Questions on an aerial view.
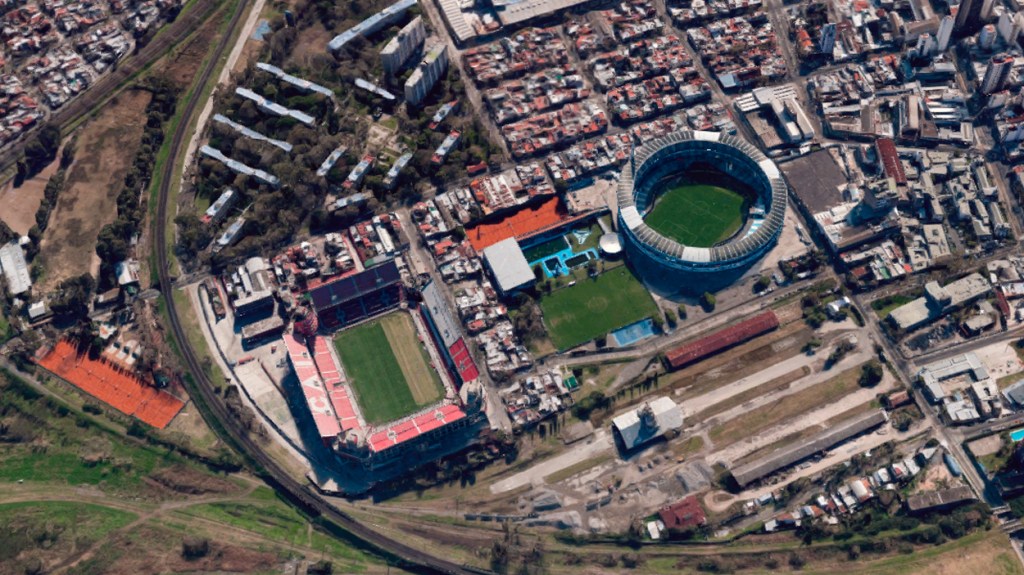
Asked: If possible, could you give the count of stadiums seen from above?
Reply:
2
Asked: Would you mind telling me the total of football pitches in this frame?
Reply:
three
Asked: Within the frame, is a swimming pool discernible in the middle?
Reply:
Yes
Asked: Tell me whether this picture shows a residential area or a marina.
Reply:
residential area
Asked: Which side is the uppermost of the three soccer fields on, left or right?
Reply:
right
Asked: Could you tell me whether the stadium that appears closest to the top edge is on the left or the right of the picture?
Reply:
right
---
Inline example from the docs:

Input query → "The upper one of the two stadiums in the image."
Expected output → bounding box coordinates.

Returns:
[617,131,787,277]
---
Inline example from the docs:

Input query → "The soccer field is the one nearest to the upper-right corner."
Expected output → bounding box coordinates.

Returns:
[648,167,750,246]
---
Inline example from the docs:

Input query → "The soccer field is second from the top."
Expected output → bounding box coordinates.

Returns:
[542,262,660,351]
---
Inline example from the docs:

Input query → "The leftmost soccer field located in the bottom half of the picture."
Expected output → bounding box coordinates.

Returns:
[333,310,444,425]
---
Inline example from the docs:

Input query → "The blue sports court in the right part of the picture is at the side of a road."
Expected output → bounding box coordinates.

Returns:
[612,318,655,346]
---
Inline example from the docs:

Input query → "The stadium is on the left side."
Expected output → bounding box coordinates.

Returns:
[283,262,486,463]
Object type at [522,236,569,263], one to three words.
swimming pool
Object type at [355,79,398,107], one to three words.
building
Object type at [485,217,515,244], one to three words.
tennis court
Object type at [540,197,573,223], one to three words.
tennis court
